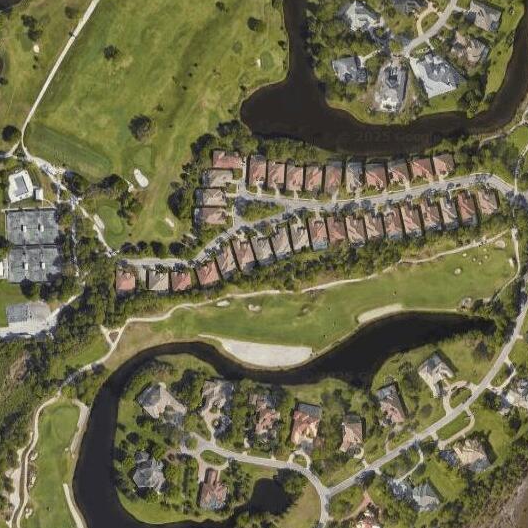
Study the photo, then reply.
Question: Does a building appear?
Yes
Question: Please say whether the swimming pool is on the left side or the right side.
left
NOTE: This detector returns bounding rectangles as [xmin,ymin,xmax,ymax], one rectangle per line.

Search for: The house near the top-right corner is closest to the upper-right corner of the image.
[470,0,503,31]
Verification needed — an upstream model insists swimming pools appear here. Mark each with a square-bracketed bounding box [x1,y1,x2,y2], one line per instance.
[9,171,33,203]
